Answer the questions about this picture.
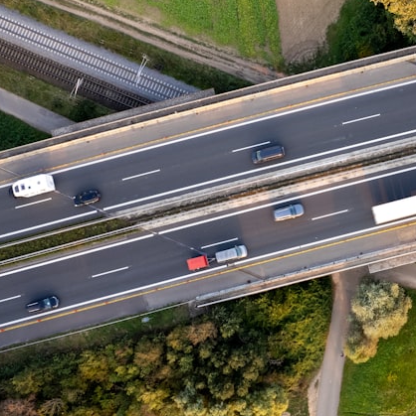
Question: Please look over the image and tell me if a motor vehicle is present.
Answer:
Yes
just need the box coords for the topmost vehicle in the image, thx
[253,145,286,163]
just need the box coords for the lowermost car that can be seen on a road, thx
[26,296,60,314]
